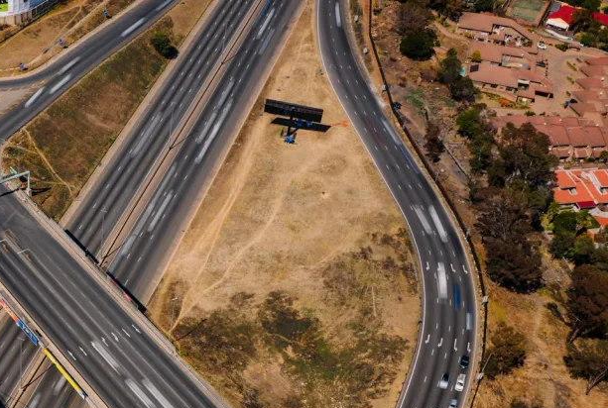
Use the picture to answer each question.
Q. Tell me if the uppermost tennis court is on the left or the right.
right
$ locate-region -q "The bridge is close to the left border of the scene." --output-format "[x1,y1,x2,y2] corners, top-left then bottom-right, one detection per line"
[0,184,199,408]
